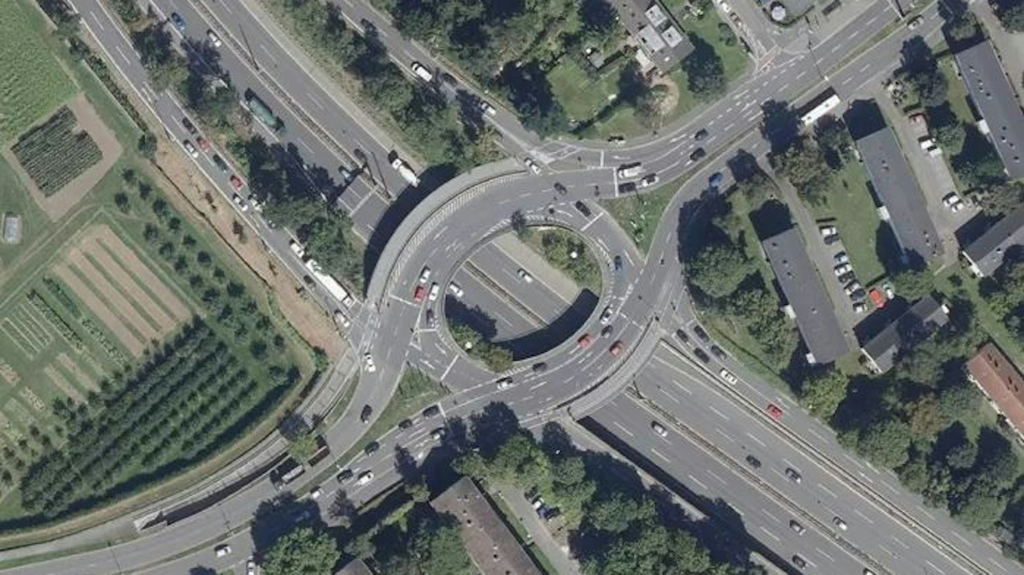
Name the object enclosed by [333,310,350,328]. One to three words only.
car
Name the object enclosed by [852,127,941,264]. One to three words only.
building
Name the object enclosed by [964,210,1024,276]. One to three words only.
house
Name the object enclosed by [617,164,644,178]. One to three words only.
vehicle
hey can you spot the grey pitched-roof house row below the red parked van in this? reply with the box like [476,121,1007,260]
[863,295,949,372]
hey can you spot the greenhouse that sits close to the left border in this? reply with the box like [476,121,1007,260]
[4,216,19,243]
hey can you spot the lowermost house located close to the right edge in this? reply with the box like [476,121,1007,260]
[964,343,1024,439]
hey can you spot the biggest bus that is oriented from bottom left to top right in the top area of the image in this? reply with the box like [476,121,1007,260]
[796,91,844,128]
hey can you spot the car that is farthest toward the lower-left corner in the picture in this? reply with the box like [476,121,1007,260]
[214,545,232,557]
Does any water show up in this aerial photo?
No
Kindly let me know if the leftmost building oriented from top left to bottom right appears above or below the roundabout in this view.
below it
